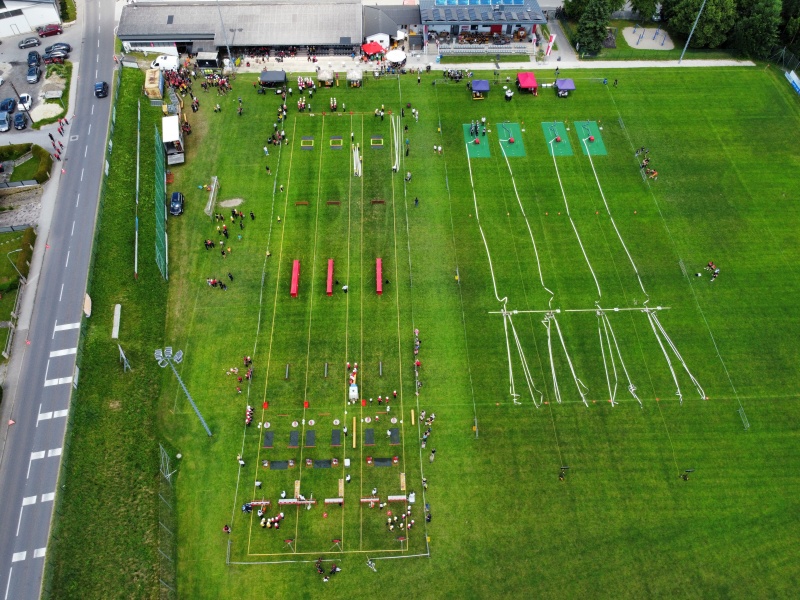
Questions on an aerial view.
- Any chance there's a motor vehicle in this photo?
Yes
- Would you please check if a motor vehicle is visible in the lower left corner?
No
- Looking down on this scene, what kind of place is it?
sports ground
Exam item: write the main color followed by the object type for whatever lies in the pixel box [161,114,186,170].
white trailer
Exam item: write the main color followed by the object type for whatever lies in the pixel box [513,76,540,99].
pink gazebo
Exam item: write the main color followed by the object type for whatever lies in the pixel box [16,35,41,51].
gray car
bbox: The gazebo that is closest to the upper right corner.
[552,80,578,99]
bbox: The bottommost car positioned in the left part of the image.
[166,191,184,216]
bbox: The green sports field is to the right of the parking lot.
[165,66,800,600]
